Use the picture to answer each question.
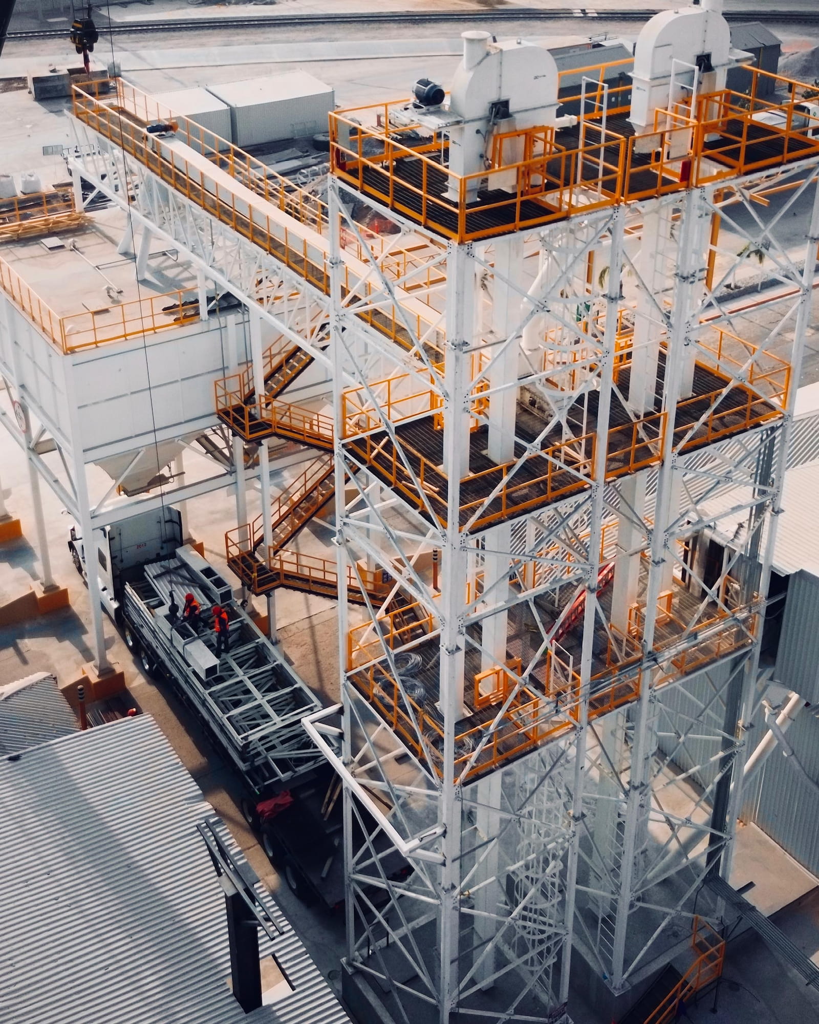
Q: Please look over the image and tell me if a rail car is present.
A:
No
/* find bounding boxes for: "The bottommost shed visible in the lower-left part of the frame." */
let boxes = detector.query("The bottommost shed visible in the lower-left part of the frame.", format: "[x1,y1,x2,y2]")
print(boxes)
[0,708,350,1024]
